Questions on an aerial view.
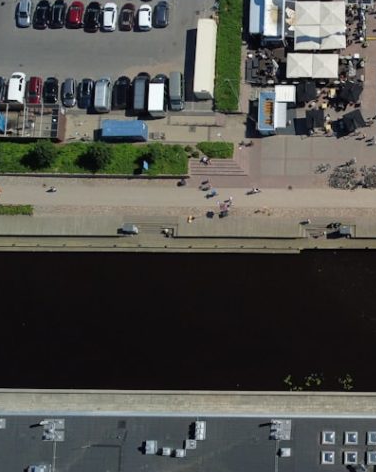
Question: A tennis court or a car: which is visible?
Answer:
car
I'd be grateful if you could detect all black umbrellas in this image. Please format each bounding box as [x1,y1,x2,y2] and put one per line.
[341,107,368,130]
[305,109,325,129]
[296,83,317,104]
[331,117,357,139]
[338,83,359,104]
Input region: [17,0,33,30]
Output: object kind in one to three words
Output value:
car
